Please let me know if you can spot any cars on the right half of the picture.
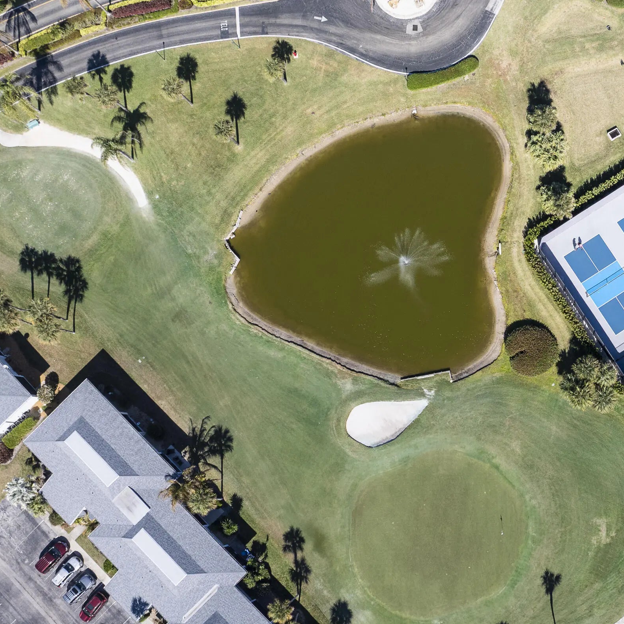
No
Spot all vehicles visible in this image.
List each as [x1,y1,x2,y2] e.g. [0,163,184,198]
[49,556,84,589]
[32,541,70,575]
[79,590,110,623]
[61,573,97,607]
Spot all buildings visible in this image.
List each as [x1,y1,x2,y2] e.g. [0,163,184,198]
[0,333,53,438]
[24,379,283,624]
